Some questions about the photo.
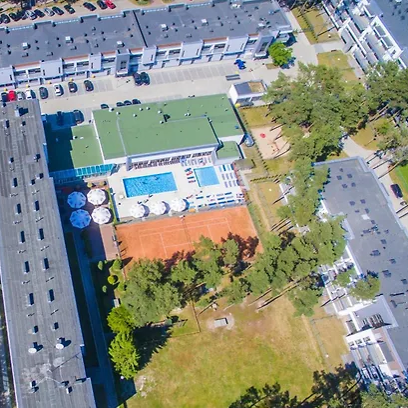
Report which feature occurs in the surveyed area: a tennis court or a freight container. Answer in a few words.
tennis court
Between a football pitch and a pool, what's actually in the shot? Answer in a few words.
pool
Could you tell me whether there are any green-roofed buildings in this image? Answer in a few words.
Yes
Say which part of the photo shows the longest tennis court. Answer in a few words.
center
